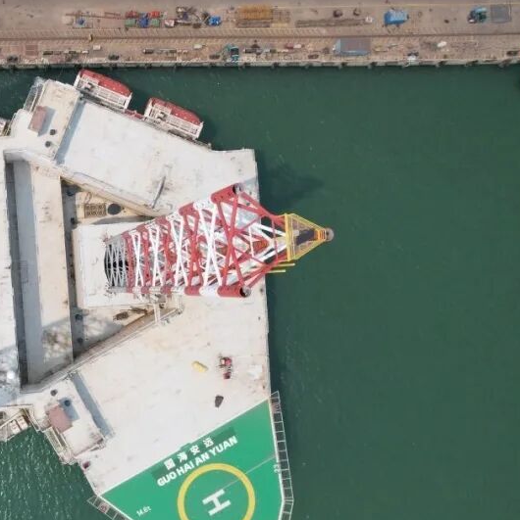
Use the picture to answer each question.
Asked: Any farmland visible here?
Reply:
No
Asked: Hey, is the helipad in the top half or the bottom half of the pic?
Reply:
bottom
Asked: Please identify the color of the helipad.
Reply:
green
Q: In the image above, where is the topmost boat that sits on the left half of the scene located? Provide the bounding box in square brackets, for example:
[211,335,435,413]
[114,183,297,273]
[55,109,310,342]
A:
[72,66,134,111]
